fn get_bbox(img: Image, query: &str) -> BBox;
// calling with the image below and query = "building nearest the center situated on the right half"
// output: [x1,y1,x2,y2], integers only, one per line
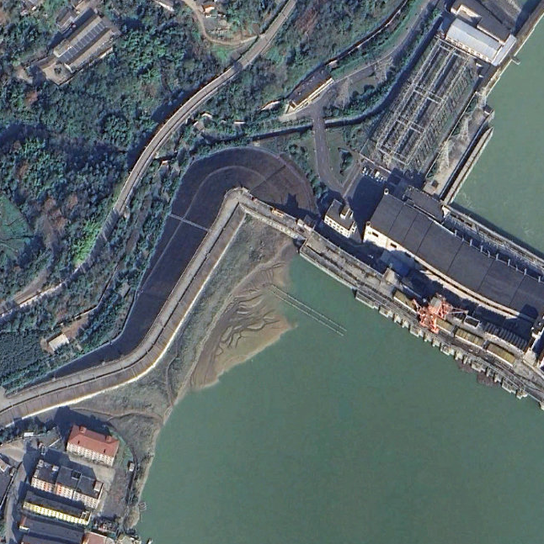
[324,204,355,237]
